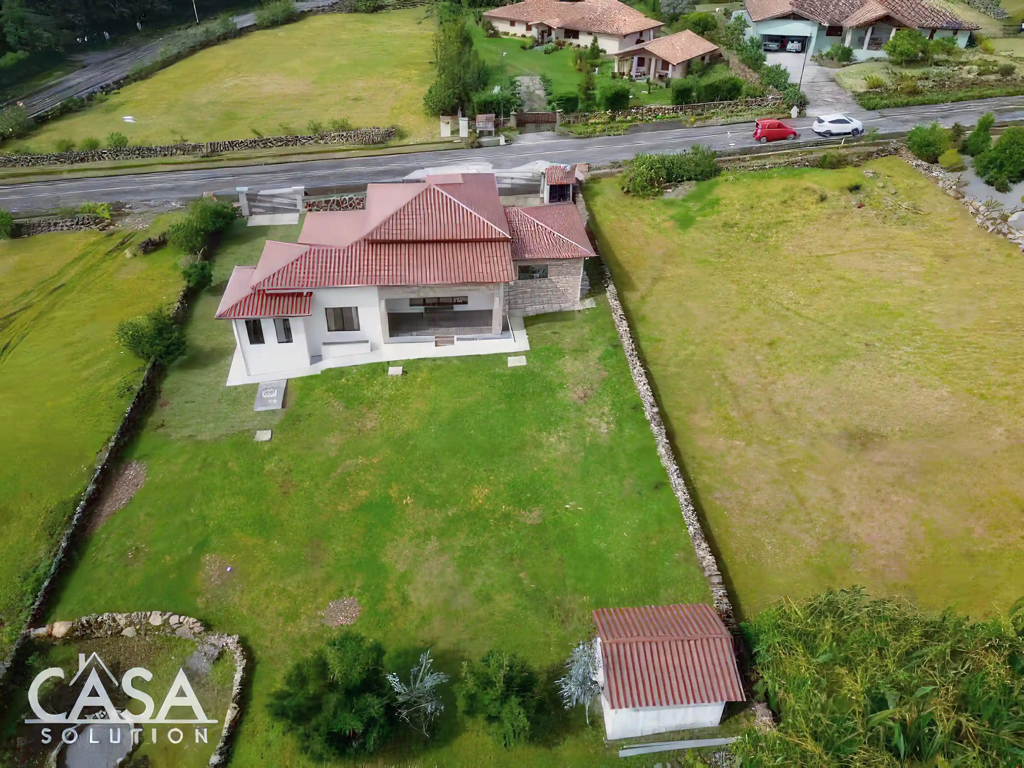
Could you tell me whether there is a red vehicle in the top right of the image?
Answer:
Yes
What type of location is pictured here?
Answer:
residential area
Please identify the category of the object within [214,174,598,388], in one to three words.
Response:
house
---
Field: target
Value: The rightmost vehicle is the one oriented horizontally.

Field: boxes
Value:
[814,114,871,138]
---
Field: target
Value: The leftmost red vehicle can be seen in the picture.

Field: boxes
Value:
[753,119,802,143]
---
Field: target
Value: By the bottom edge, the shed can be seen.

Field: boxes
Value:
[586,602,748,744]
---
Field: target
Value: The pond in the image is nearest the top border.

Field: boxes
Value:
[961,143,1024,219]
